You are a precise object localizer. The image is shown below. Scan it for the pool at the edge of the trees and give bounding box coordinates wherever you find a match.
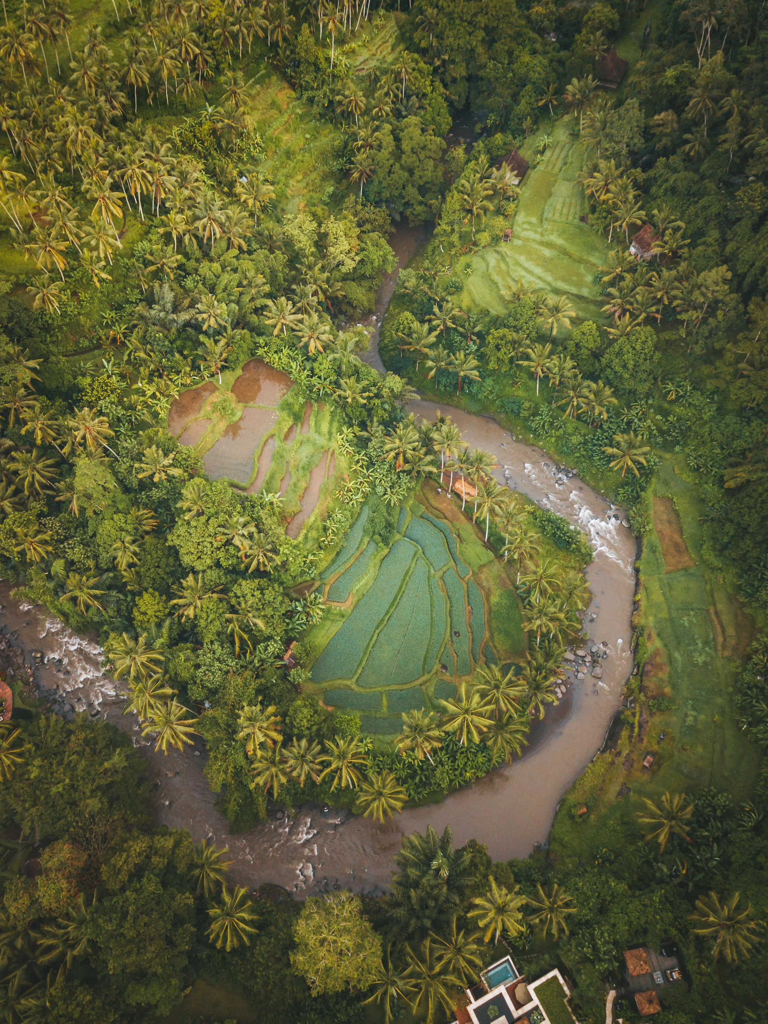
[478,955,524,993]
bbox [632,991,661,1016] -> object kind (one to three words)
building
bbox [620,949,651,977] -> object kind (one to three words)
building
